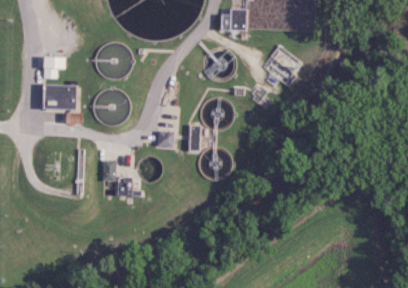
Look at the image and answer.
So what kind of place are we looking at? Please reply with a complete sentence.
What you see here is an industrial area.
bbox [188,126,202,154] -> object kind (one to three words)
building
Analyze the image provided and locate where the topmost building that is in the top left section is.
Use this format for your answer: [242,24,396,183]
[43,57,66,70]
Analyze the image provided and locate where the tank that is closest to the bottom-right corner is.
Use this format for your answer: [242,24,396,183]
[198,147,236,182]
